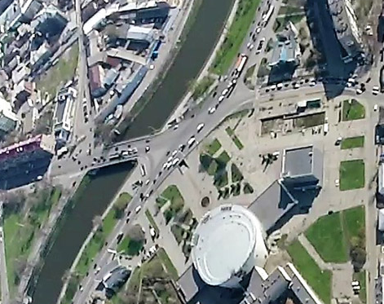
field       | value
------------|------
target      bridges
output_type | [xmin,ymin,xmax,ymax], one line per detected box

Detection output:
[80,130,159,181]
